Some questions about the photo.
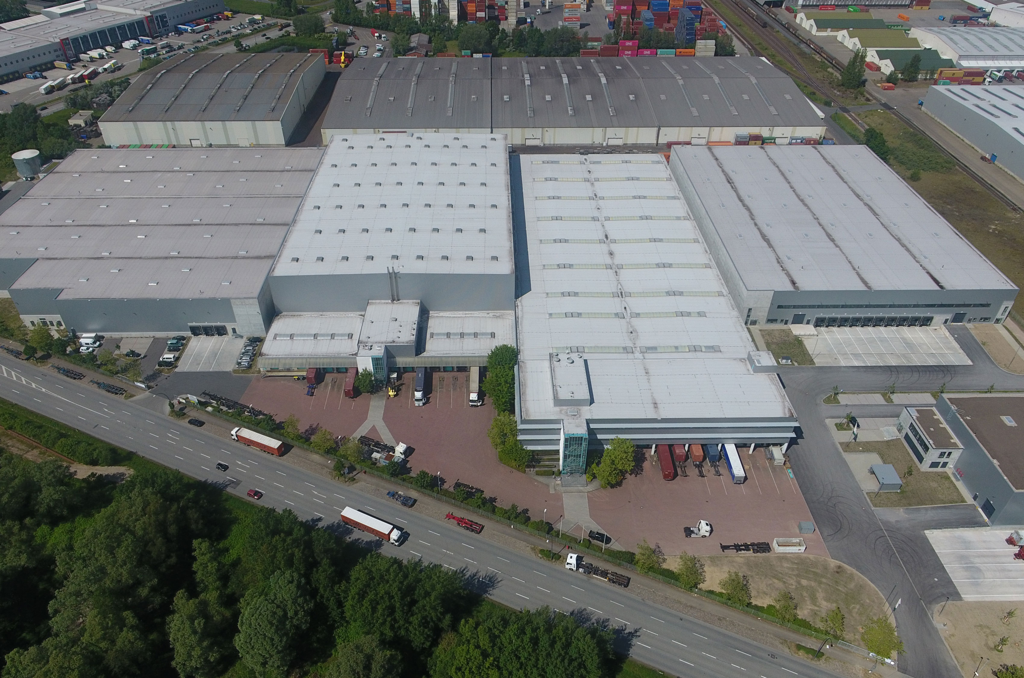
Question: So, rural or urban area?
urban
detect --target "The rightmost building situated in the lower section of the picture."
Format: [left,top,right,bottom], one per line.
[934,391,1024,524]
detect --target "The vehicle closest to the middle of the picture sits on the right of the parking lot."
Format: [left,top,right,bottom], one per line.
[469,366,482,399]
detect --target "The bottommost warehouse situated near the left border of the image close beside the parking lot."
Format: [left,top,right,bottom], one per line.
[0,149,325,337]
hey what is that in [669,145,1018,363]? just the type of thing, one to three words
warehouse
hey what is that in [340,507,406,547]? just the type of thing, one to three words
truck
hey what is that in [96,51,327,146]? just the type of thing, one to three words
building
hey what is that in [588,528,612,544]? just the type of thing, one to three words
vehicle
